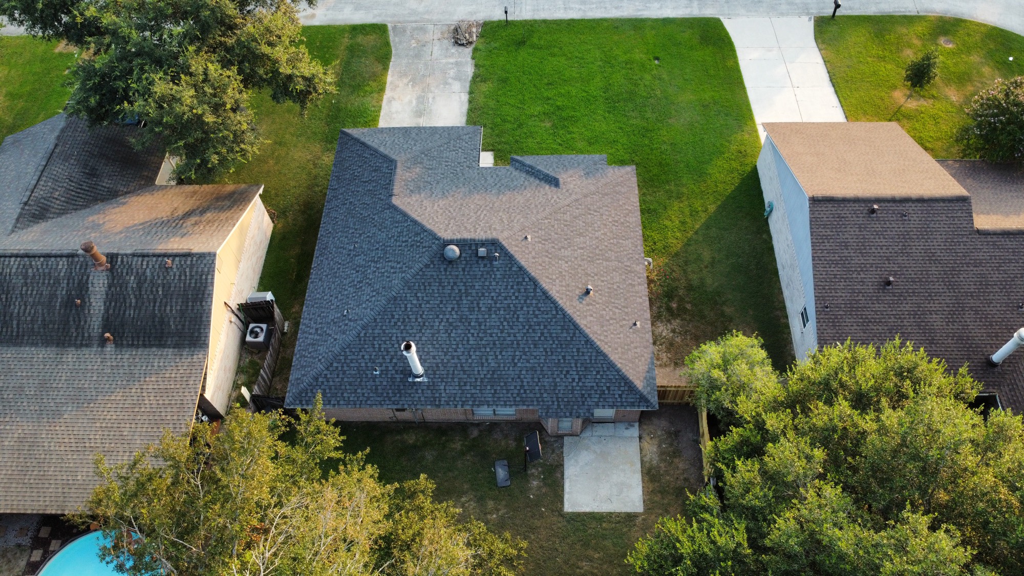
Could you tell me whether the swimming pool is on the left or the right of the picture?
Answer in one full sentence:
The swimming pool is on the left side of the image.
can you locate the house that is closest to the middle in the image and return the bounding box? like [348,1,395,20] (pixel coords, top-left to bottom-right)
[282,125,659,436]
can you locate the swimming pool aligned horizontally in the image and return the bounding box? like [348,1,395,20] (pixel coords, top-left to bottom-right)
[38,525,199,576]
